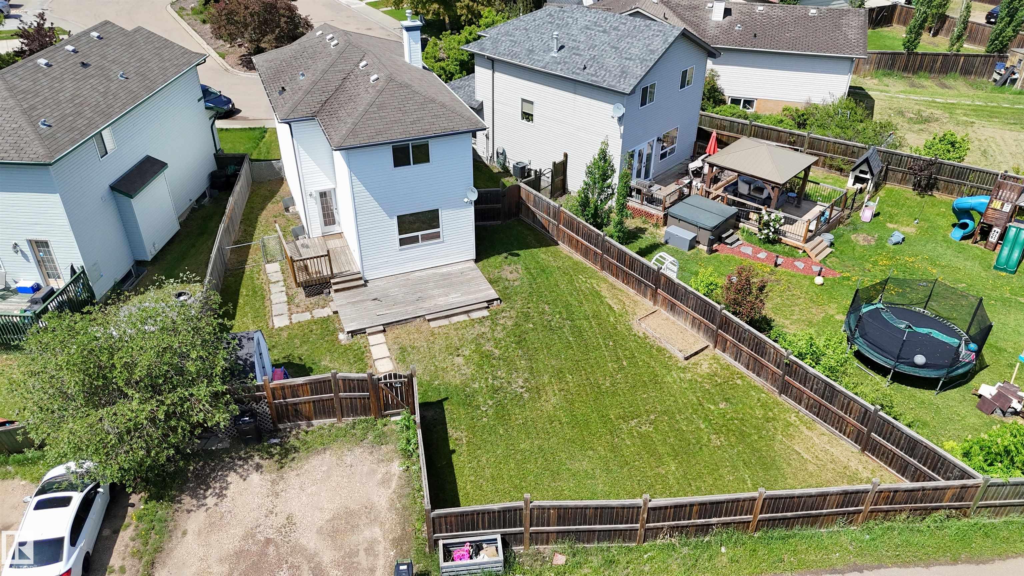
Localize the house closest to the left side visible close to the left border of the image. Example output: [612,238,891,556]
[0,22,228,300]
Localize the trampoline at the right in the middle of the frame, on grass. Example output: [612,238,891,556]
[842,265,987,395]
